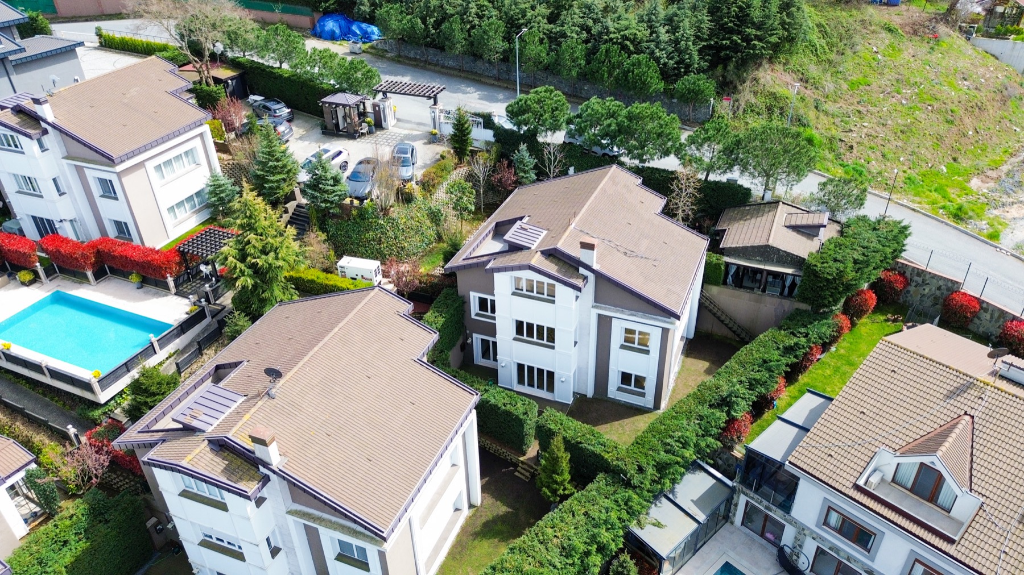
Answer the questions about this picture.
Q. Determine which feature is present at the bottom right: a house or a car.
house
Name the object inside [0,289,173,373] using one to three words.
swimming pool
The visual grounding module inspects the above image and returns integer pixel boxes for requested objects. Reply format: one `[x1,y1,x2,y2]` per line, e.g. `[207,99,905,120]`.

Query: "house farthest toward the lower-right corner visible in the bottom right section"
[728,320,1024,575]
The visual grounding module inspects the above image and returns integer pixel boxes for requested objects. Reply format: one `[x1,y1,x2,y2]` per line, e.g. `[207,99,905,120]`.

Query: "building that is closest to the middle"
[444,163,709,410]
